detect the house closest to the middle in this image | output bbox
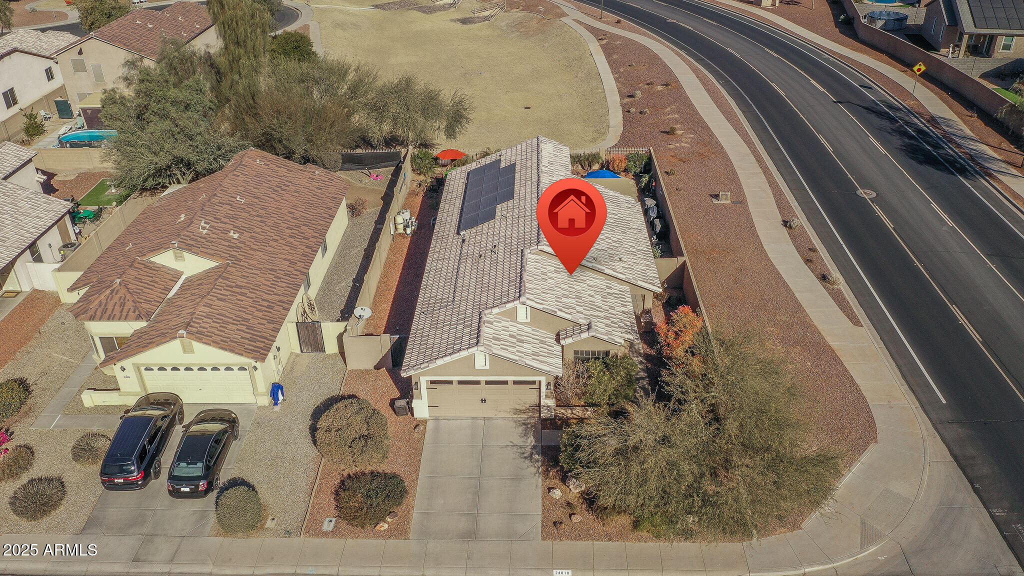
[399,132,663,420]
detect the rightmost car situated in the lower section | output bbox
[163,409,243,490]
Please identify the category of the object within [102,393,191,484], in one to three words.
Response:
car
